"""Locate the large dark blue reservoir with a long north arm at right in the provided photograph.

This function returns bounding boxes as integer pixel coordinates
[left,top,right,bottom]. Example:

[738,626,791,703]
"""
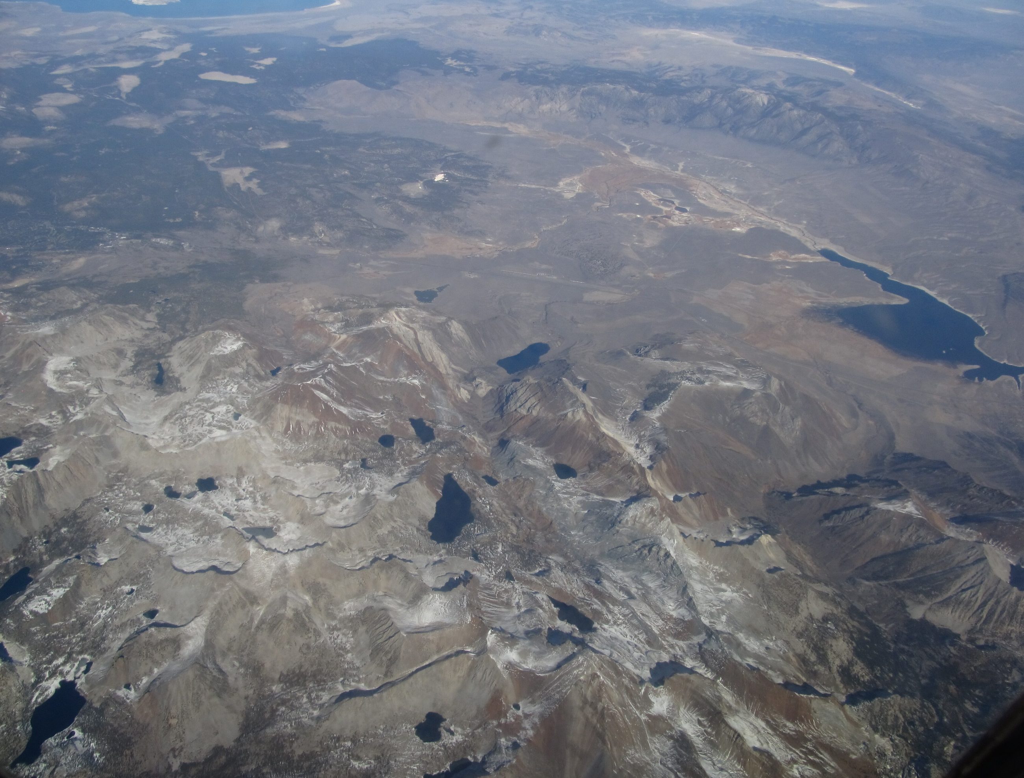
[817,248,1024,389]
